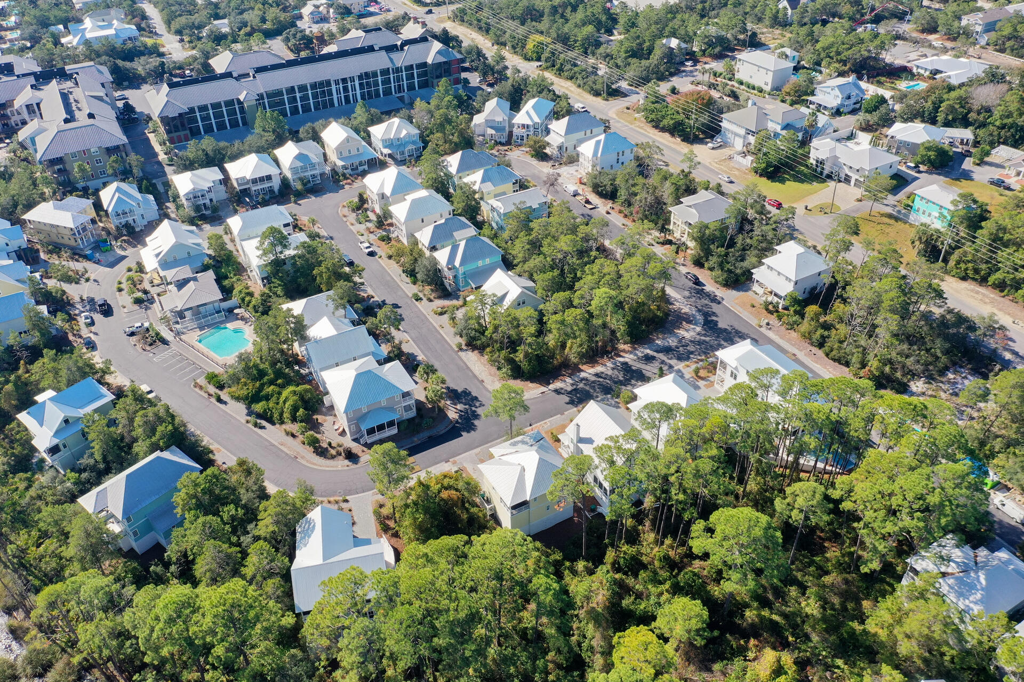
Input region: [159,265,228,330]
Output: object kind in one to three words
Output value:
building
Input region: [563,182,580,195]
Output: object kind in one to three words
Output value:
vehicle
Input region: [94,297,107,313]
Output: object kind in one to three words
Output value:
vehicle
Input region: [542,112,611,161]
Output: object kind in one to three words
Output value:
house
